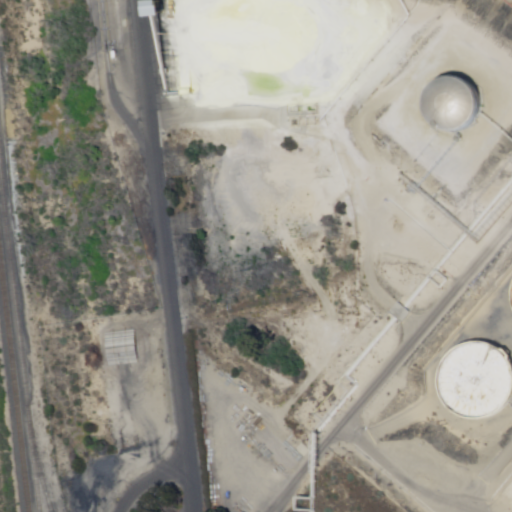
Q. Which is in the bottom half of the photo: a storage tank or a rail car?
storage tank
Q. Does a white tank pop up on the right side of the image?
Yes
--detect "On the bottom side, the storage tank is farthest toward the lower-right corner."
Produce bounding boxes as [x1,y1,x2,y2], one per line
[438,340,512,420]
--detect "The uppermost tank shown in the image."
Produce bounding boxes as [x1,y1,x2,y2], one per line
[420,76,479,133]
